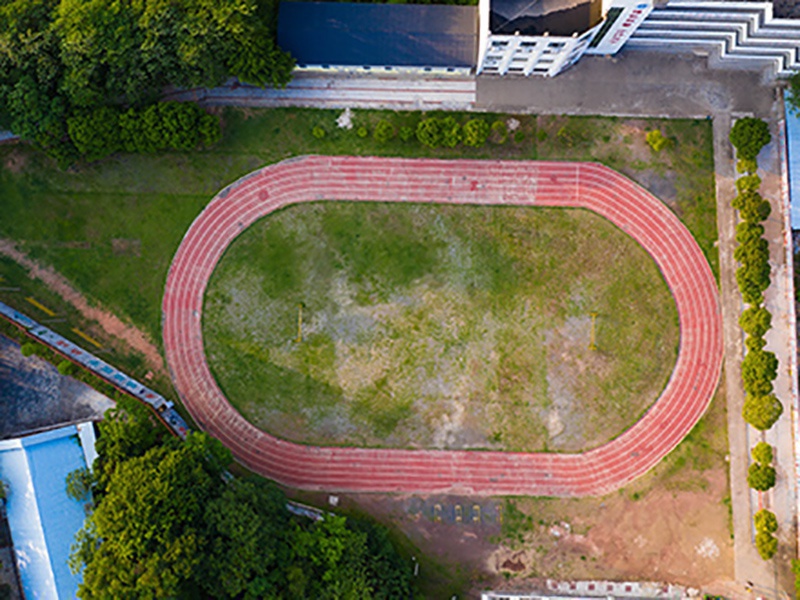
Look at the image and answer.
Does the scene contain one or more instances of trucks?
No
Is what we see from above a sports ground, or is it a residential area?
sports ground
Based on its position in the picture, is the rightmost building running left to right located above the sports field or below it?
above it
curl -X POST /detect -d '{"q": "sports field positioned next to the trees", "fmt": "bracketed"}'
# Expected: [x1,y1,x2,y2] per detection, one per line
[202,202,680,451]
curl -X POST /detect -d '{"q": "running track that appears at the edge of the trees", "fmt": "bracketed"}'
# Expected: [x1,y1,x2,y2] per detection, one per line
[162,155,724,498]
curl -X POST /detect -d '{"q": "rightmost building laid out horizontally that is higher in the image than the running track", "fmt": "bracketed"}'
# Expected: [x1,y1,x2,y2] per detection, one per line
[620,0,800,83]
